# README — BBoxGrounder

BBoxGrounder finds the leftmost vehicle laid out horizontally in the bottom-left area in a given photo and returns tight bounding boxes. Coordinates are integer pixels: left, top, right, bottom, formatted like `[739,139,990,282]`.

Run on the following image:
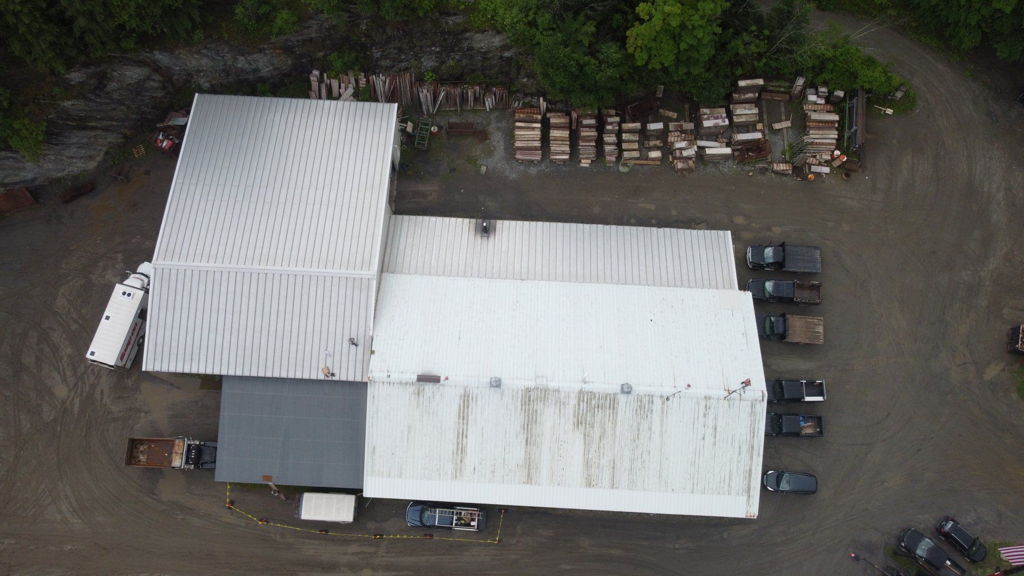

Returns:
[122,436,217,472]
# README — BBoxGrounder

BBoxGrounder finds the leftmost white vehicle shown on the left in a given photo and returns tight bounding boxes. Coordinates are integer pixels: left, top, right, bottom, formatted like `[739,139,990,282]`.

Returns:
[86,260,151,373]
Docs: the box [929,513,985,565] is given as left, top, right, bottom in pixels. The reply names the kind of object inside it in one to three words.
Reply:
car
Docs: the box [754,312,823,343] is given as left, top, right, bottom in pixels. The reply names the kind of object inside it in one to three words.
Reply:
truck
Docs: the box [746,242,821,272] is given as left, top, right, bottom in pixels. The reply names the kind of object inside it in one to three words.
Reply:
truck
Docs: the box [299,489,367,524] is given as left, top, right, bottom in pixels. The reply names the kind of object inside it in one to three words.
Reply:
van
